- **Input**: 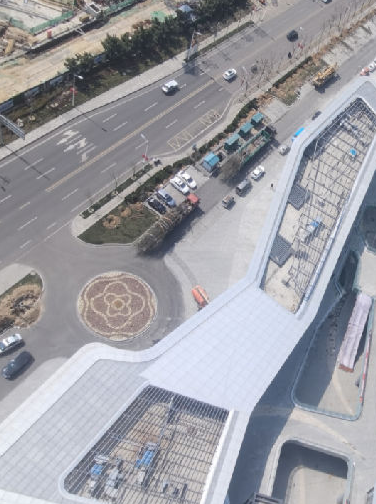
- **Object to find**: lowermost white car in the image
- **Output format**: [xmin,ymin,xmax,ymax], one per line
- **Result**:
[0,333,25,354]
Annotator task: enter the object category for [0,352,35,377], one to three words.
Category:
car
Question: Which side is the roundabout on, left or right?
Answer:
left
